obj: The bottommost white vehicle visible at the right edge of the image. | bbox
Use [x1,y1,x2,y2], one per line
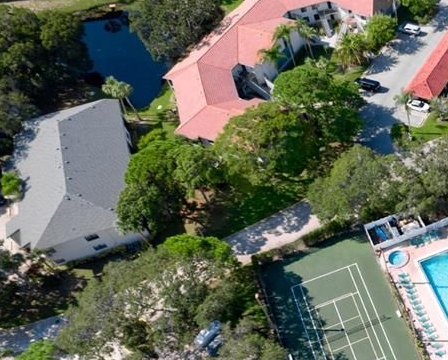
[405,98,429,113]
